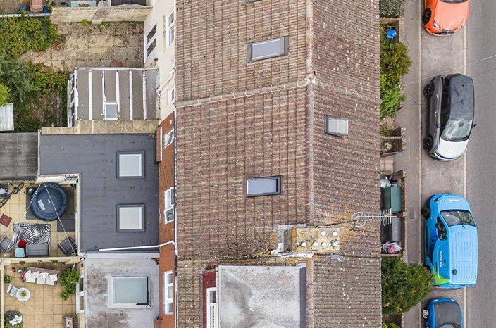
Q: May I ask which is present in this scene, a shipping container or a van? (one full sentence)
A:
Of the two, only a van appears.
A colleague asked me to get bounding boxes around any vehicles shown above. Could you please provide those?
[422,70,482,164]
[418,295,467,328]
[423,190,488,292]
[421,0,473,36]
